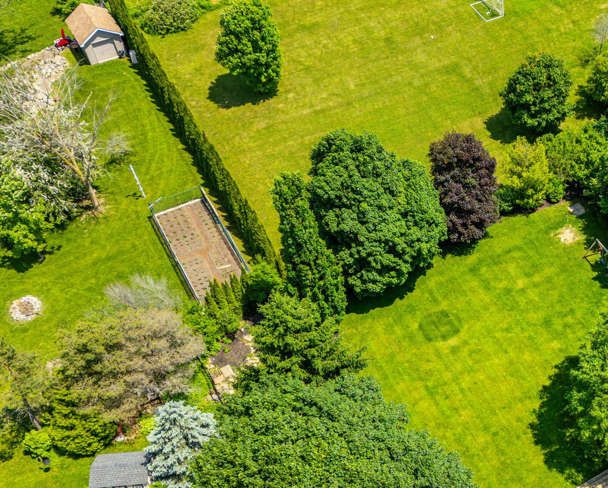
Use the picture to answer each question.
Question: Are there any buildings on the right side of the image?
No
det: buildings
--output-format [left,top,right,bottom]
[60,1,128,66]
[86,449,164,488]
